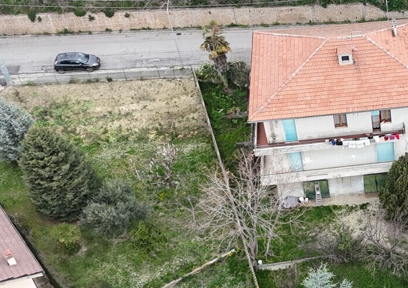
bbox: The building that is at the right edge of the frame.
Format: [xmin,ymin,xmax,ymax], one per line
[247,18,408,197]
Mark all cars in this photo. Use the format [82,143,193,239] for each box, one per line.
[52,48,101,71]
